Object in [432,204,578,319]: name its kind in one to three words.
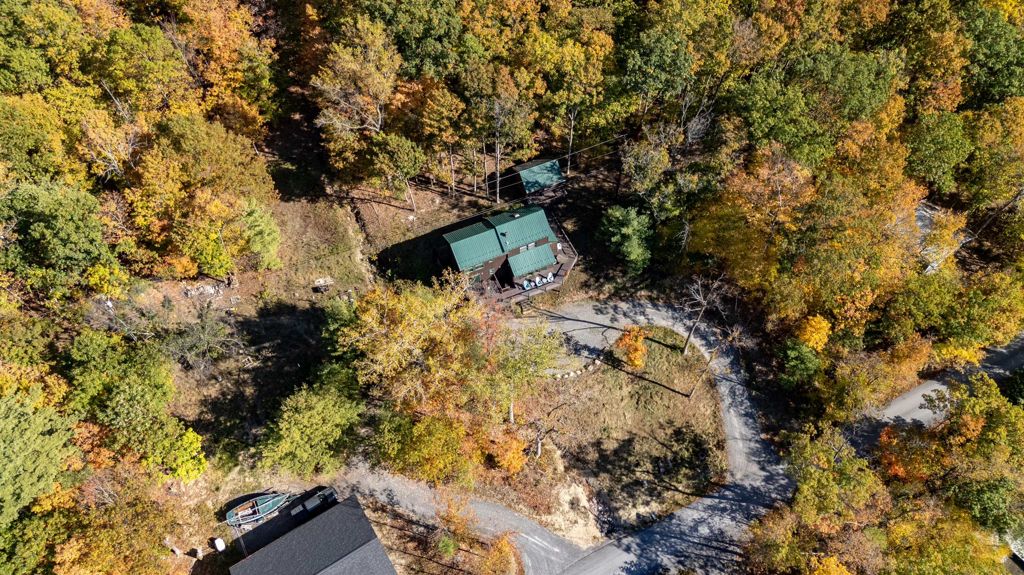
house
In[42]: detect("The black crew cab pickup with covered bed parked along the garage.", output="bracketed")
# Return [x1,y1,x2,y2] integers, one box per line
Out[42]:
[288,485,342,525]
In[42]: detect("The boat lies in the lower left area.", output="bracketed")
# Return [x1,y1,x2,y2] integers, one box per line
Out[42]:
[214,490,299,527]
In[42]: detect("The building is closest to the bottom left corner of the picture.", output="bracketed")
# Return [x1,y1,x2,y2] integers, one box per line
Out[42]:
[229,494,400,575]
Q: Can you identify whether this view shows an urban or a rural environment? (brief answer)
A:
rural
